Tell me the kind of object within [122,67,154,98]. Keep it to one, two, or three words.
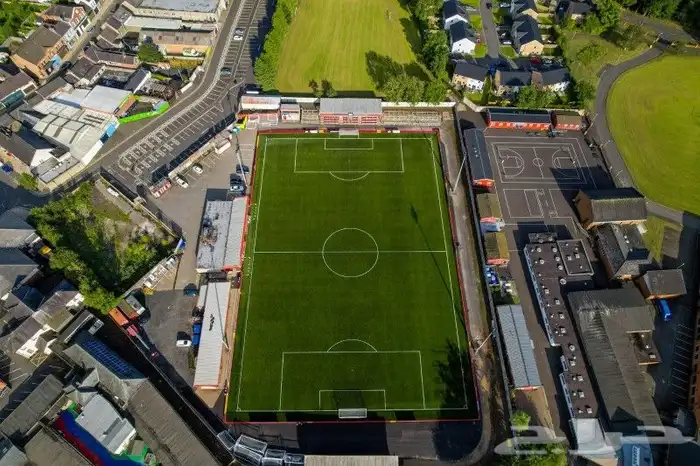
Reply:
house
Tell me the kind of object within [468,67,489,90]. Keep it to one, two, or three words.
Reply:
house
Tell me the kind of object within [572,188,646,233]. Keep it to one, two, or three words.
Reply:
building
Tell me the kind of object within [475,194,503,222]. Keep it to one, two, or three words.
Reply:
building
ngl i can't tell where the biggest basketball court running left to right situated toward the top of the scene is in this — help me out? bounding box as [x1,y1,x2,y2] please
[488,137,597,191]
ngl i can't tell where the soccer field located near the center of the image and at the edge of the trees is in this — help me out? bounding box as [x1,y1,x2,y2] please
[226,135,480,422]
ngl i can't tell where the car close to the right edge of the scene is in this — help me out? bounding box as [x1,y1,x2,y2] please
[673,407,686,424]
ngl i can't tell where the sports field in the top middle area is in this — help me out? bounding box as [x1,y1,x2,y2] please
[265,0,439,98]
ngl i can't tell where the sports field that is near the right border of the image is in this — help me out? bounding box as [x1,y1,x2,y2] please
[608,54,700,215]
